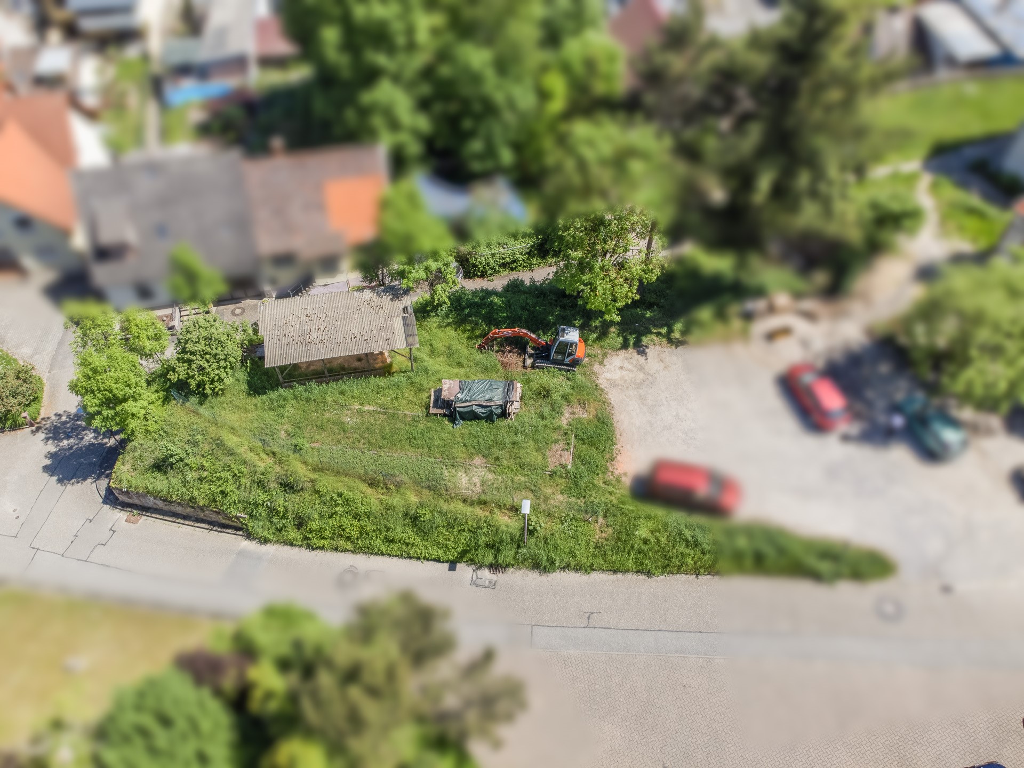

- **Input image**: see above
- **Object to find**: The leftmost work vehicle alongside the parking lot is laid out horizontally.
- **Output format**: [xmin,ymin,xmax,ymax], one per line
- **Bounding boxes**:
[474,320,585,372]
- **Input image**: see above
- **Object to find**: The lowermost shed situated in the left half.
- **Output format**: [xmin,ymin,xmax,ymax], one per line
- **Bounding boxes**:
[260,286,421,386]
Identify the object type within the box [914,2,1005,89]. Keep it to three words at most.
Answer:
building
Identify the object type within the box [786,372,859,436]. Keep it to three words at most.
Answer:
car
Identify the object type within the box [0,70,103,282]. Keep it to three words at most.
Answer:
house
